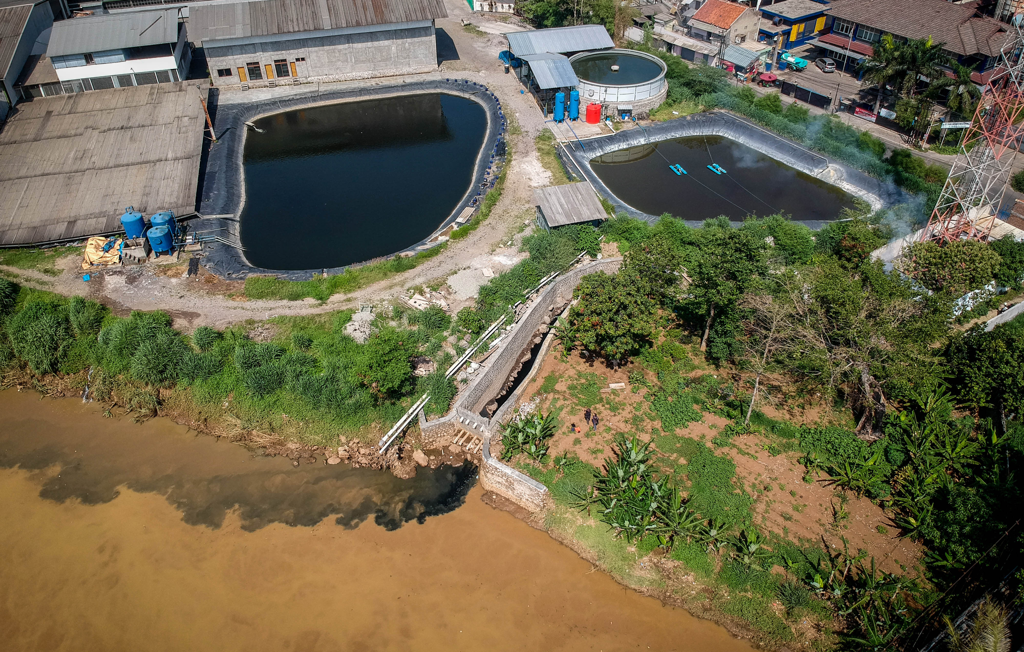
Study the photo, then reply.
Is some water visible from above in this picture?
Yes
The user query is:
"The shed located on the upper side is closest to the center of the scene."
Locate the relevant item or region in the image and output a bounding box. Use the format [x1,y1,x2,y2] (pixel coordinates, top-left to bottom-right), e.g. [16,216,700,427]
[533,181,609,231]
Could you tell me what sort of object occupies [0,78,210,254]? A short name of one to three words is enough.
shed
